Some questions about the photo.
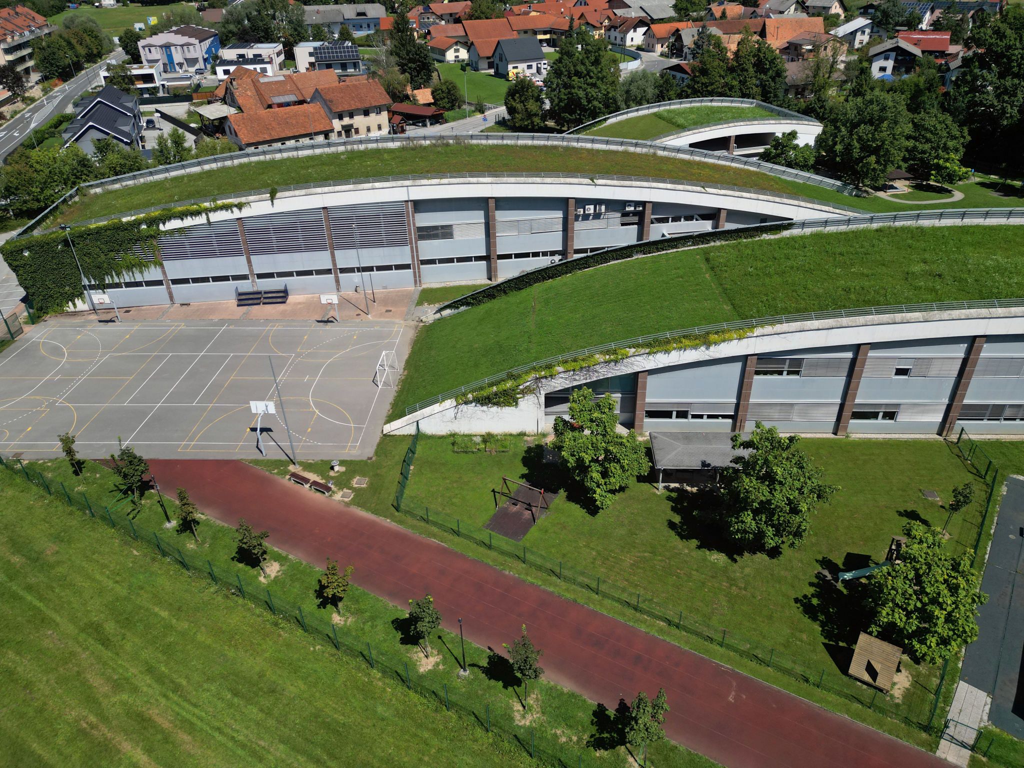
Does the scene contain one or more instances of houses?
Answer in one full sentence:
Yes, a house can be made out from above.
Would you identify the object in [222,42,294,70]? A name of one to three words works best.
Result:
house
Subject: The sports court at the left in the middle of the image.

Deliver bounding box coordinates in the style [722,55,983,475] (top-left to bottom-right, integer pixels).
[0,320,426,459]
